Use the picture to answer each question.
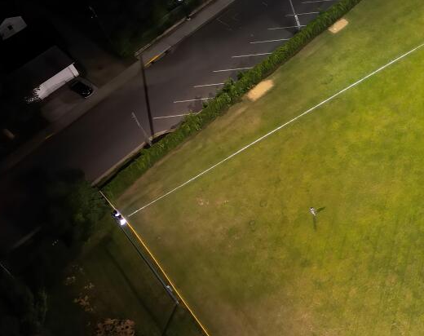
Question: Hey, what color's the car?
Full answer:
The car is black.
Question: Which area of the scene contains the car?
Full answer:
The car is in the top left part of the image.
